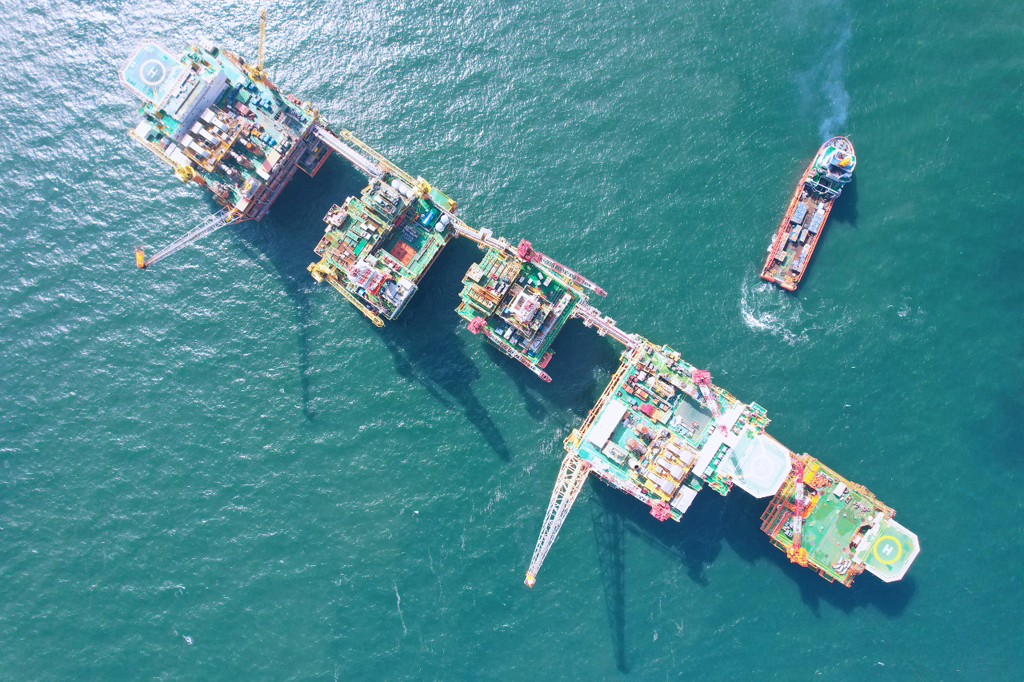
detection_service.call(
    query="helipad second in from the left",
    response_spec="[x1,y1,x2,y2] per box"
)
[715,429,792,499]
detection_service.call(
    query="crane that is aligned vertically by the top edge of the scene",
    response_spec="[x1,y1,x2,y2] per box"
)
[247,10,280,95]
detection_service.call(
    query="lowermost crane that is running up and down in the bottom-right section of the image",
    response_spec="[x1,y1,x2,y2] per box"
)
[777,458,806,566]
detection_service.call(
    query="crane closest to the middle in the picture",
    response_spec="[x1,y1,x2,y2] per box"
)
[464,312,553,382]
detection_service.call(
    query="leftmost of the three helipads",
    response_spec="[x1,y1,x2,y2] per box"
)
[118,38,193,111]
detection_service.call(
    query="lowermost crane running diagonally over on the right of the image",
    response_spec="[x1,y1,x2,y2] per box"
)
[587,461,677,521]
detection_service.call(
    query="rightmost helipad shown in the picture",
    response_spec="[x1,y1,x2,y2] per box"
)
[852,513,920,583]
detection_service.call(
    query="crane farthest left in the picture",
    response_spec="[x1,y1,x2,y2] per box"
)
[127,129,210,187]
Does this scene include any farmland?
No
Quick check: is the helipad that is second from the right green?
No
